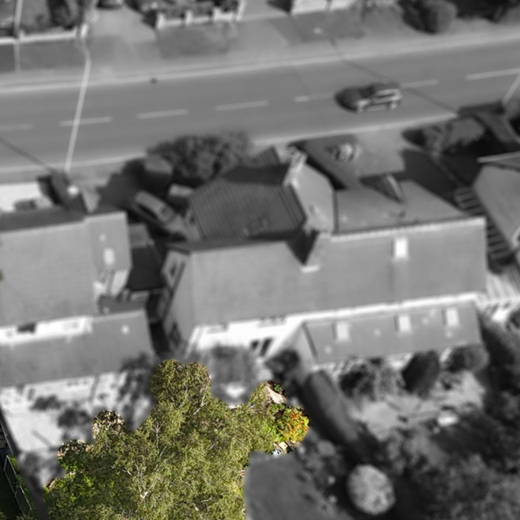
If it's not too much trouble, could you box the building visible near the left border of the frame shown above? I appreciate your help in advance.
[0,173,154,404]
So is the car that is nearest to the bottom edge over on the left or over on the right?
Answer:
left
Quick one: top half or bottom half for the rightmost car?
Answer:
top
